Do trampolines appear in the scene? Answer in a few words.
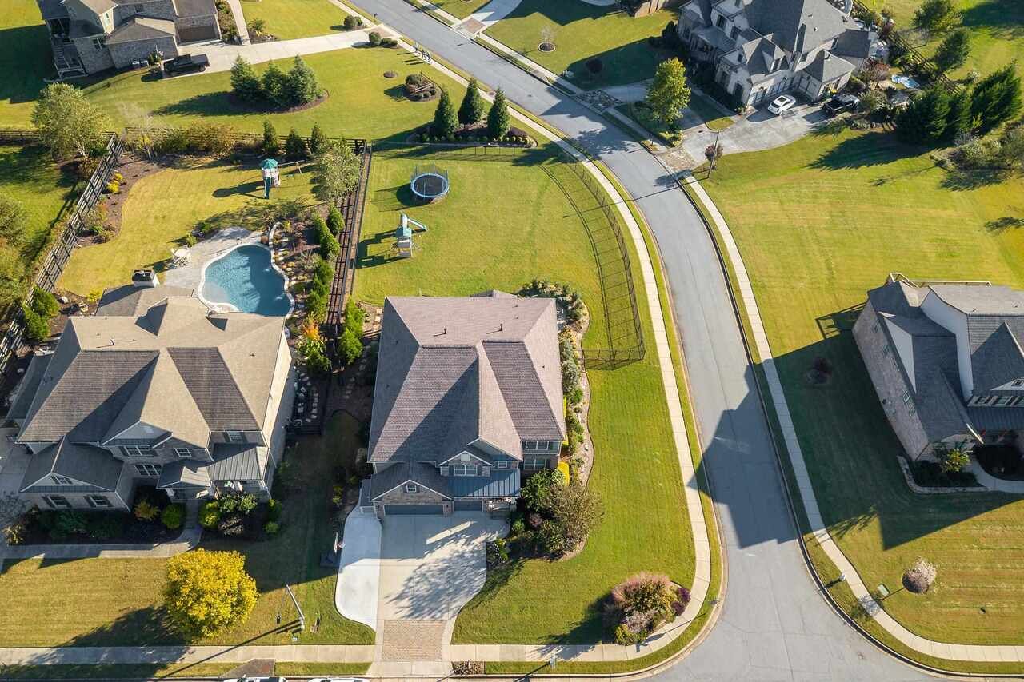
Yes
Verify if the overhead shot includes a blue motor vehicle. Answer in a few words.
No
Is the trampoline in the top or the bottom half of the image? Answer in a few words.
top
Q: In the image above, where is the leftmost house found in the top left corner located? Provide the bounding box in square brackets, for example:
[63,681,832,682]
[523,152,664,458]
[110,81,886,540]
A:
[28,0,224,80]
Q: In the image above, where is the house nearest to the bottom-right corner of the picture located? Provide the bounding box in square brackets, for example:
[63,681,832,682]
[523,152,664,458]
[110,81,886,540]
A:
[856,274,1024,473]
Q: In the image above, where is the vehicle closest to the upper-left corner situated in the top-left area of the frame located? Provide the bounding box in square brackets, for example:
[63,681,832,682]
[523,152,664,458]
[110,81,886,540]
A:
[161,53,210,75]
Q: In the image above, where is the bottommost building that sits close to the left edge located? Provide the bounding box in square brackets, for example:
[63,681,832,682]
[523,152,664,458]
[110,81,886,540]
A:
[0,273,296,523]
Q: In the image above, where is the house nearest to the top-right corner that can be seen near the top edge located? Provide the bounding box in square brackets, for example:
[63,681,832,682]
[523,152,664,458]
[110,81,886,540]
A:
[676,0,881,106]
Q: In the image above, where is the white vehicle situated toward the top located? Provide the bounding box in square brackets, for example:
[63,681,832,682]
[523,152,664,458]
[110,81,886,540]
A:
[766,94,798,116]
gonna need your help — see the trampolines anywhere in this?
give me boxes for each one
[409,161,449,203]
